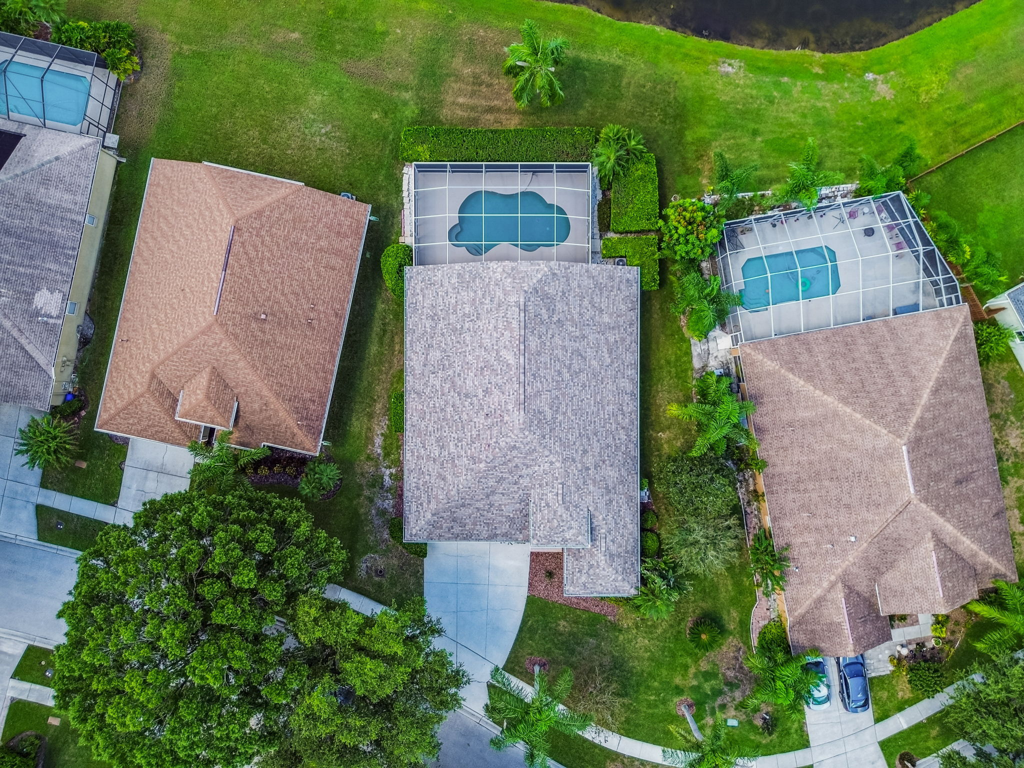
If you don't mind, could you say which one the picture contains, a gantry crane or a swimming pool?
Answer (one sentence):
There is a swimming pool in the scene.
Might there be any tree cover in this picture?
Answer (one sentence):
Yes, tree cover shows up in the scene.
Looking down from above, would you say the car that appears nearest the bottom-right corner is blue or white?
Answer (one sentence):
The color of the car that appears nearest the bottom-right corner is blue.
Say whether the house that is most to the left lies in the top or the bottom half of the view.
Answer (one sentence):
It is in the top half that the house that is most to the left appears.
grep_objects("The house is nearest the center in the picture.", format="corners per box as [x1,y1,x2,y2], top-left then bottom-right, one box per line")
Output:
[402,259,642,598]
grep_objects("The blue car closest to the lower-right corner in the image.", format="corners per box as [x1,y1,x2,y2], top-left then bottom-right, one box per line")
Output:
[831,653,870,713]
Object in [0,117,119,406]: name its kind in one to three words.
house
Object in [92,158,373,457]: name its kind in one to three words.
house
